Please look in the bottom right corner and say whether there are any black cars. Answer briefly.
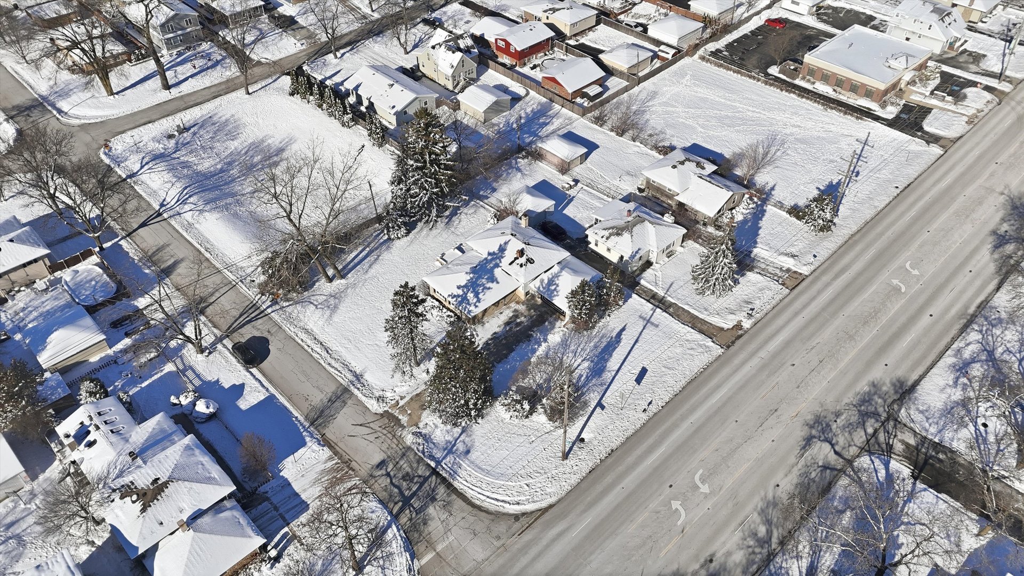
No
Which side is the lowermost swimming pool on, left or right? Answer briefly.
left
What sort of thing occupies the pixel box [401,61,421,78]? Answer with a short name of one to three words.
car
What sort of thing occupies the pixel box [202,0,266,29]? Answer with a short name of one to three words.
house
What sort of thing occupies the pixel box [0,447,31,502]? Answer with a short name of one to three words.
building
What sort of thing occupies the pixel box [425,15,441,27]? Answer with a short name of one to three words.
vehicle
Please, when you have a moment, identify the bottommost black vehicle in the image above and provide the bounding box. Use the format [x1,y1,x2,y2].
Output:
[230,342,260,369]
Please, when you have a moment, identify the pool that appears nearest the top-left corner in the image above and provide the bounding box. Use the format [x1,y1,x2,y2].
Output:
[56,266,122,309]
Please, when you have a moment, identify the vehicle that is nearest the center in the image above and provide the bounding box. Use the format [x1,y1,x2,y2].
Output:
[538,219,568,243]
